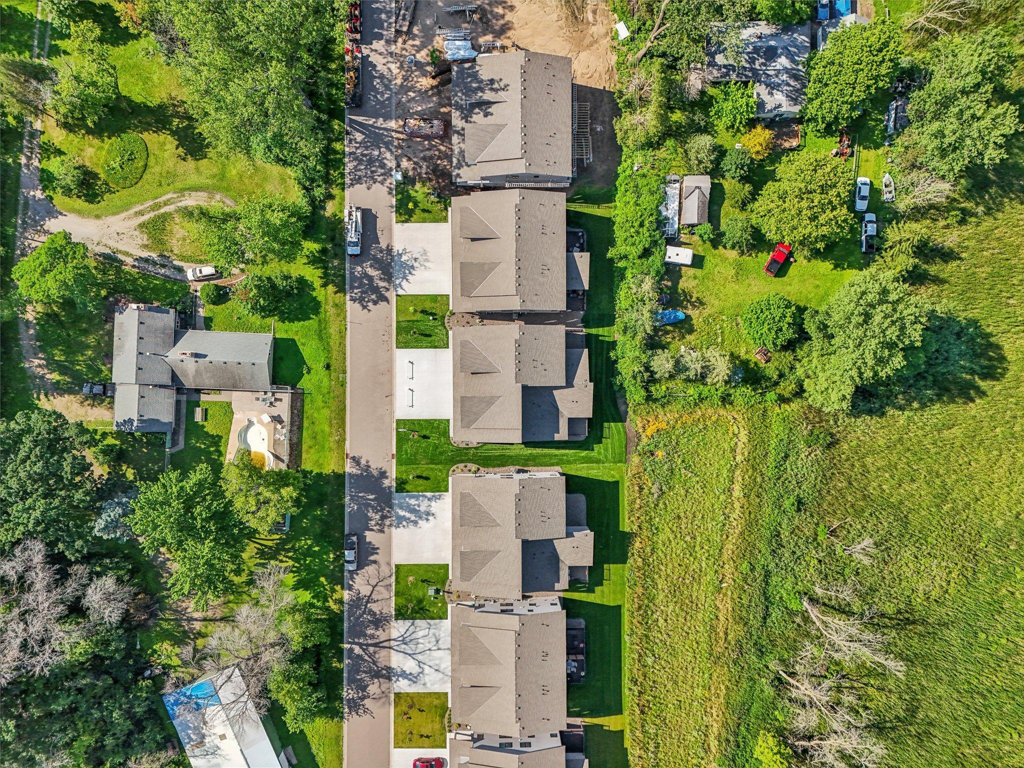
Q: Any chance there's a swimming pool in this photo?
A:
Yes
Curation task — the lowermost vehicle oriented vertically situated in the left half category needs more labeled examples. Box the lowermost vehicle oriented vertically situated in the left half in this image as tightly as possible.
[342,532,358,570]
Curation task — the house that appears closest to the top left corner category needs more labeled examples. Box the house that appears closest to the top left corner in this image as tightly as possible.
[113,304,278,432]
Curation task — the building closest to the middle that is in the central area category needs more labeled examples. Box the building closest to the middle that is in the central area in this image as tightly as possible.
[451,324,595,444]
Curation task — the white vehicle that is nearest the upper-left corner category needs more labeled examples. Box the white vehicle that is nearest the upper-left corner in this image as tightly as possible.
[188,265,220,281]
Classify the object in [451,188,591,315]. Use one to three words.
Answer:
house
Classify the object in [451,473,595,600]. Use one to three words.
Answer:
house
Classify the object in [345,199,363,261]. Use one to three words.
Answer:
vehicle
